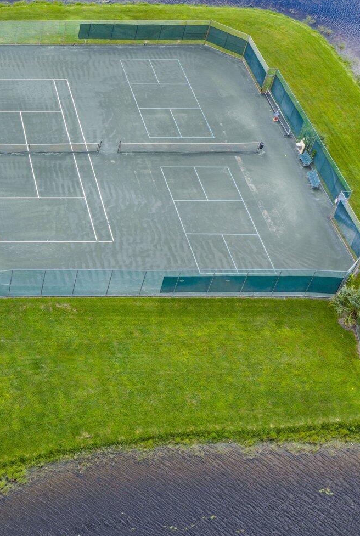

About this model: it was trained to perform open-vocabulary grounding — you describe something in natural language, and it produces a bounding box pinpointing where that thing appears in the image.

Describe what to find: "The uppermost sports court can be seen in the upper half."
[86,44,300,153]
